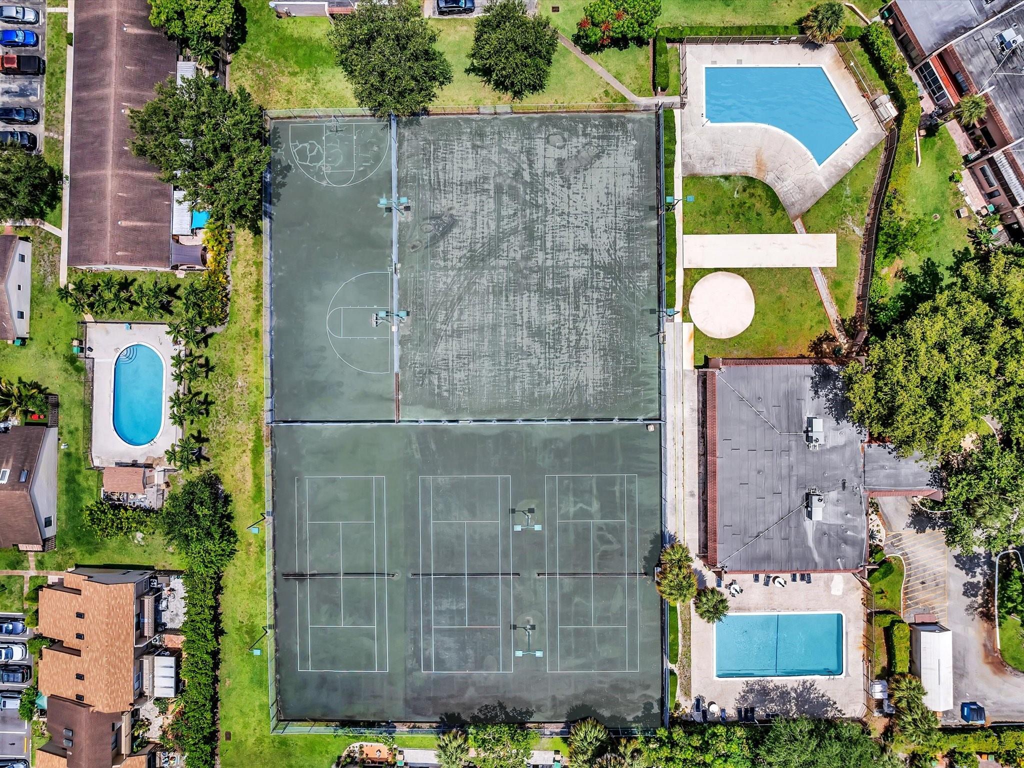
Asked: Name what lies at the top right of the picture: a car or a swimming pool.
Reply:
swimming pool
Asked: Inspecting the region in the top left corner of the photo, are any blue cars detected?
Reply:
Yes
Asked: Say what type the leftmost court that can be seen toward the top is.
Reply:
basketball court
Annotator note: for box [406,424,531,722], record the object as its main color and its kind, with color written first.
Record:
gray tennis court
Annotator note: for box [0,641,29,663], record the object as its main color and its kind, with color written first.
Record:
white car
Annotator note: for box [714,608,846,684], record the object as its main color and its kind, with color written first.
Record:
blue swimming pool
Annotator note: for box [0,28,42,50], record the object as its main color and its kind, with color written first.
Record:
blue car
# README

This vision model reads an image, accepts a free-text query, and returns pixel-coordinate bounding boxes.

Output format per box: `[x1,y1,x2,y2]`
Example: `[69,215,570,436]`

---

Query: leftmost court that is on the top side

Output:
[271,115,398,421]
